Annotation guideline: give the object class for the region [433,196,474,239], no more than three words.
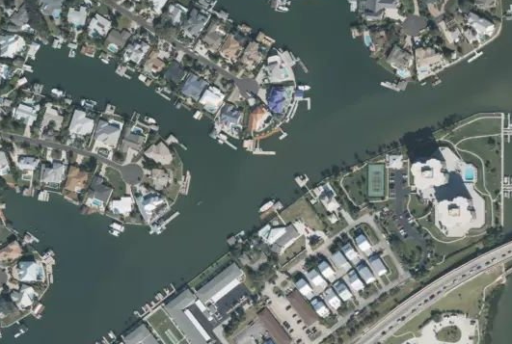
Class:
building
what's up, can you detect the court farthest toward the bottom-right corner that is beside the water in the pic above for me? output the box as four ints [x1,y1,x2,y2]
[368,164,384,196]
